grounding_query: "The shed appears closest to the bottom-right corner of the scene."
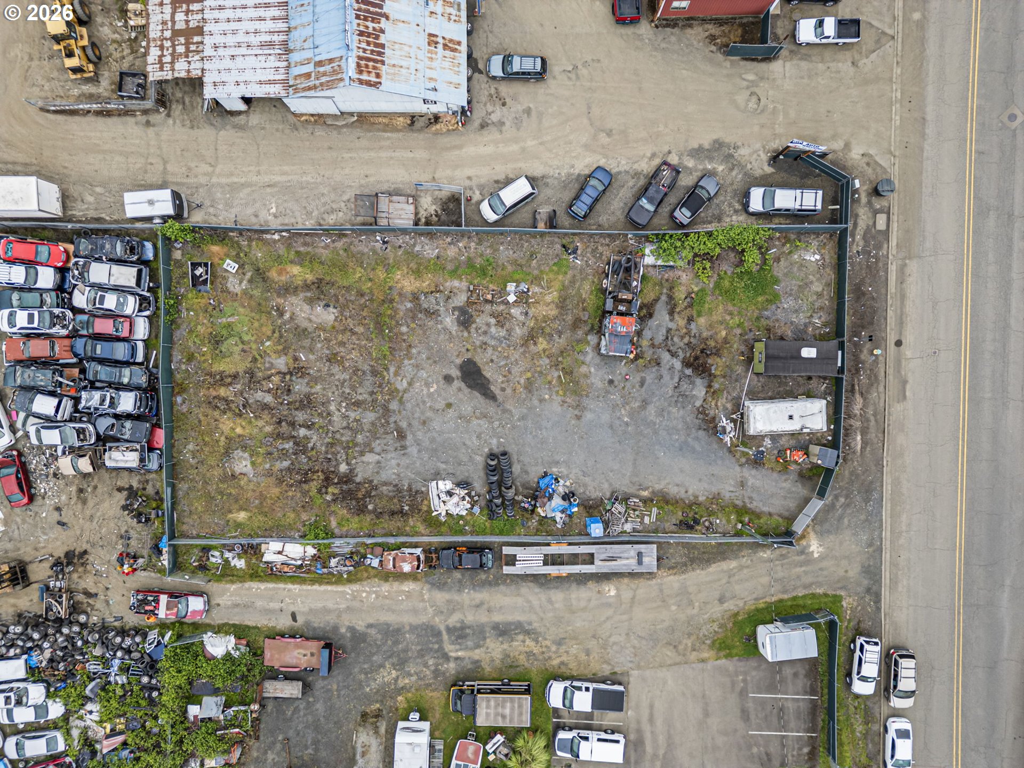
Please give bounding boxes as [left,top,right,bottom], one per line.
[804,444,840,469]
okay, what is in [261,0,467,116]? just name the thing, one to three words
shed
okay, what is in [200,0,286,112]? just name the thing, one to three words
barn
